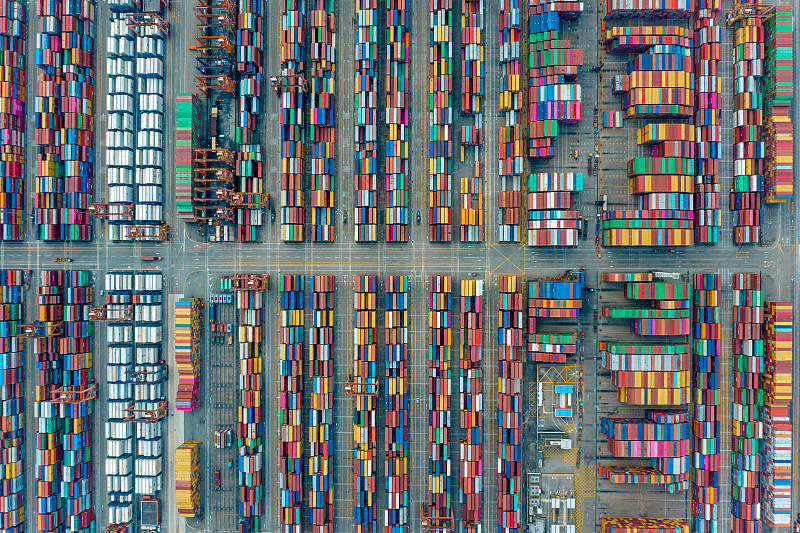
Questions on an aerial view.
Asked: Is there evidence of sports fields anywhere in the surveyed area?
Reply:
No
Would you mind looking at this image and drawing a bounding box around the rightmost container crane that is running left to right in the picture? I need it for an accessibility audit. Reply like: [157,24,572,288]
[727,4,777,30]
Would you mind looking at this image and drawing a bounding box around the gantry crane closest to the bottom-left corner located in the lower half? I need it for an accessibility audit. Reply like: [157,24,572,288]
[48,383,98,404]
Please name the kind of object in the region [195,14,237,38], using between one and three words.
container crane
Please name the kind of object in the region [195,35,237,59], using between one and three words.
container crane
